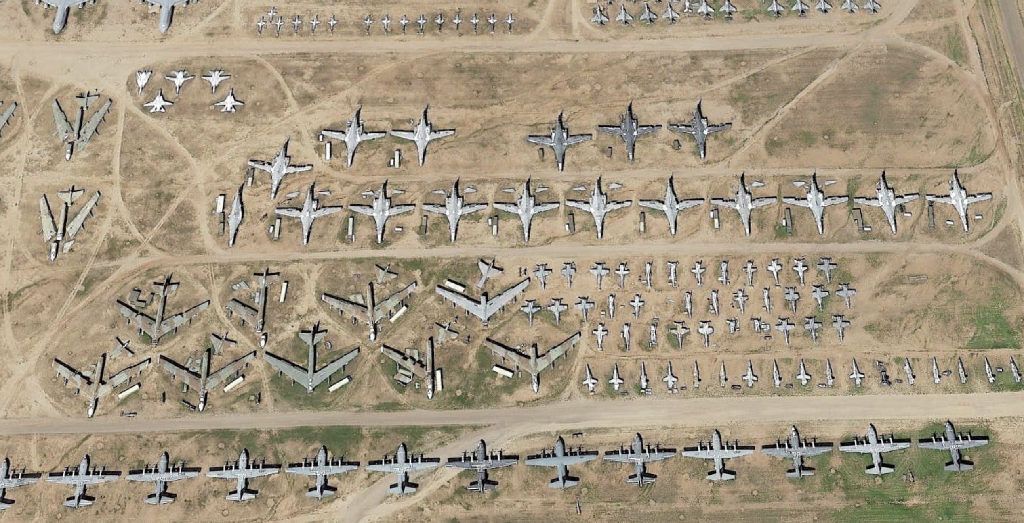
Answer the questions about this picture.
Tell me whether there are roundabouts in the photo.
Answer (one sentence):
No, there appears to be no roundabout in this shot.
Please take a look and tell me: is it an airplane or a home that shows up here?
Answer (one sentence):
Looking from above, you can make out an airplane.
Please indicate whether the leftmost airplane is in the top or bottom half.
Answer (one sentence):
The leftmost airplane sits in the bottom half of the picture.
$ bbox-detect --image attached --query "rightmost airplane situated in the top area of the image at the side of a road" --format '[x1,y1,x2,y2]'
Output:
[928,167,993,232]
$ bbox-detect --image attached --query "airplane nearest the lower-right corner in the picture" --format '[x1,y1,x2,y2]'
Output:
[917,427,990,477]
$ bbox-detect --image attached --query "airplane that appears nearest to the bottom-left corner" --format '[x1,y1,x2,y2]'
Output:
[0,464,38,514]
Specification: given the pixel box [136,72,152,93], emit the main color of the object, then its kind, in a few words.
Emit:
white airplane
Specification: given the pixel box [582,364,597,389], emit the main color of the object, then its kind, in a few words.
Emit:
white airplane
